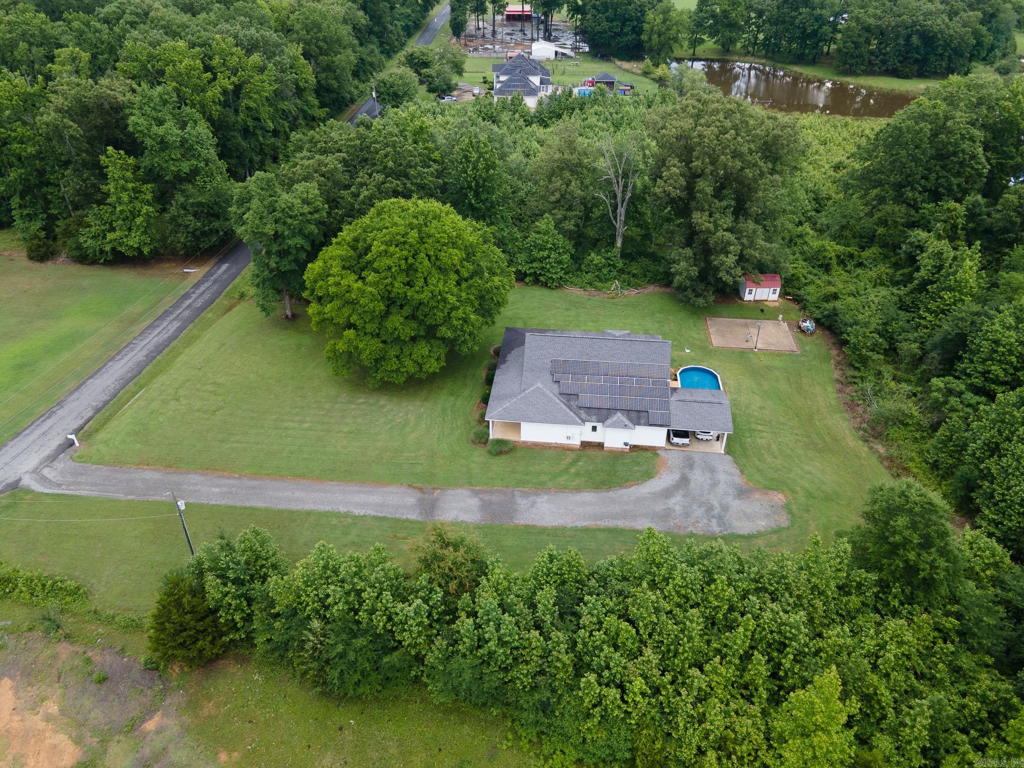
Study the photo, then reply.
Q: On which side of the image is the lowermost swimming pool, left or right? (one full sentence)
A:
The lowermost swimming pool appears in the right half of the scene.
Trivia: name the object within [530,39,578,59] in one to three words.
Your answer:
barn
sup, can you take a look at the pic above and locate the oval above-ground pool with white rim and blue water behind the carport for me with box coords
[676,365,723,392]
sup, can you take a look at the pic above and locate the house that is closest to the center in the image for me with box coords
[485,328,734,454]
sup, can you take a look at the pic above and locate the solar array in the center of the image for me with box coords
[551,357,671,425]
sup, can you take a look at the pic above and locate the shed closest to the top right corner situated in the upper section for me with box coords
[738,273,782,300]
